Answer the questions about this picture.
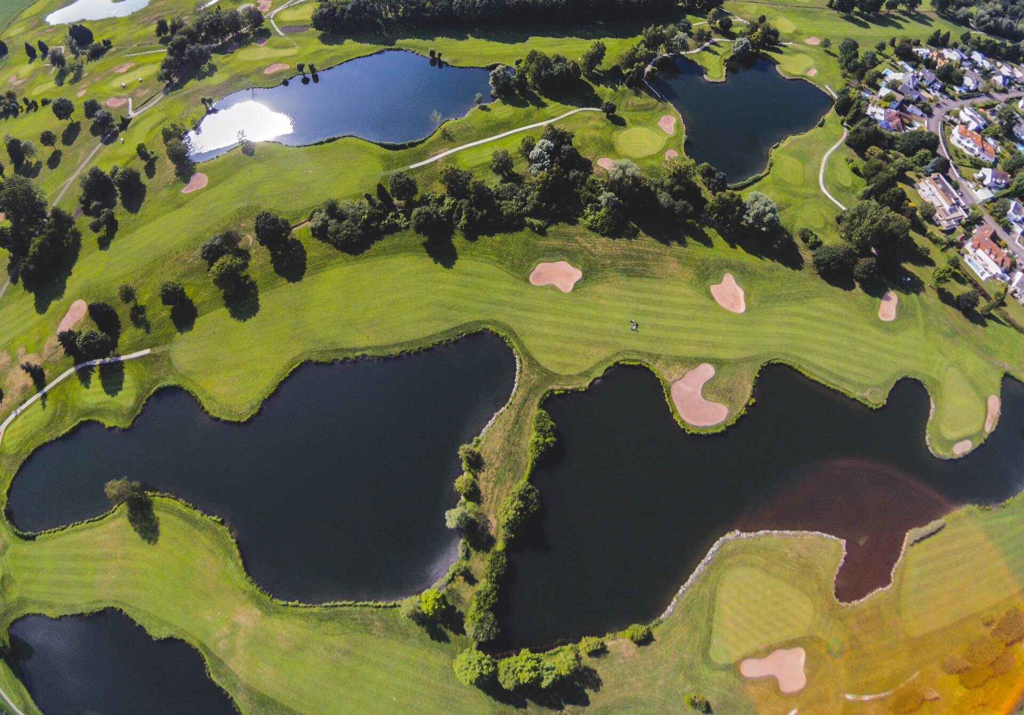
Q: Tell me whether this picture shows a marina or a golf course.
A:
golf course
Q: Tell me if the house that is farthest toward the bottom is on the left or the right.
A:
right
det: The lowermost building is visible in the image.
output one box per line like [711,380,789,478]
[996,268,1024,298]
